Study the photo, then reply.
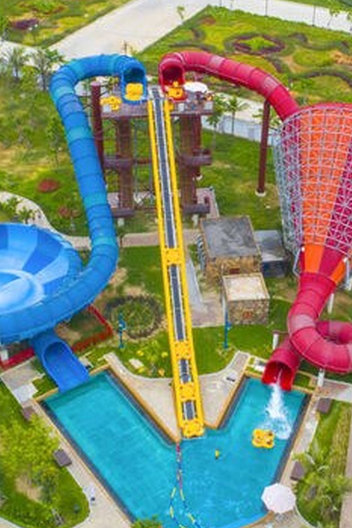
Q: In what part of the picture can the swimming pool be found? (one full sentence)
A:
You can find the swimming pool in the bottom area of the picture.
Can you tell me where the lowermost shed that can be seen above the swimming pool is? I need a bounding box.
[223,272,268,319]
